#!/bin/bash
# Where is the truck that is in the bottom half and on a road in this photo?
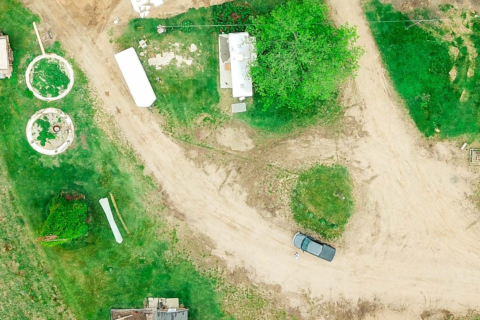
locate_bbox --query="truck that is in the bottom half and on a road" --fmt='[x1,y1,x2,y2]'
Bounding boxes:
[294,234,337,263]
